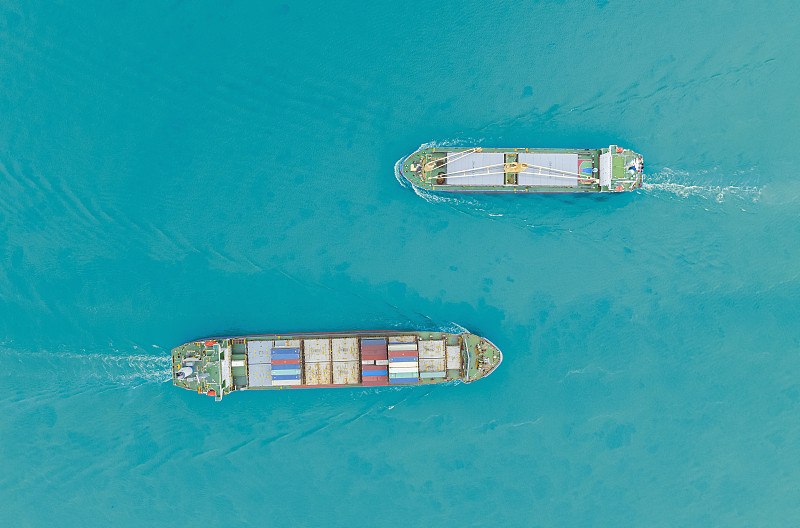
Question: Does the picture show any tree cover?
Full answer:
No, no tree cover is visible.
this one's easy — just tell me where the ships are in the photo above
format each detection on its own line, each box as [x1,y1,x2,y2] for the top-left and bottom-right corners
[171,330,503,401]
[401,144,645,194]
